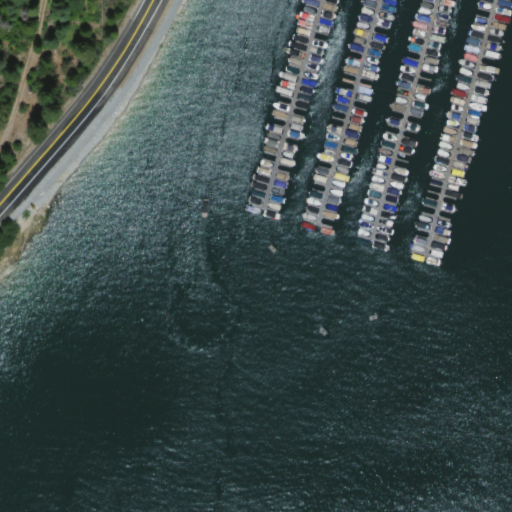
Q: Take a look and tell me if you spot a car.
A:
No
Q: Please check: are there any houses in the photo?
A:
No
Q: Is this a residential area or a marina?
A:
marina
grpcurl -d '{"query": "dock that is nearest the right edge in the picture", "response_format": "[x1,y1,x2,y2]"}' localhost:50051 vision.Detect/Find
[414,0,510,264]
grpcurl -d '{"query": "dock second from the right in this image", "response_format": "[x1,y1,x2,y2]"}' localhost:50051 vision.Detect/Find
[358,0,454,246]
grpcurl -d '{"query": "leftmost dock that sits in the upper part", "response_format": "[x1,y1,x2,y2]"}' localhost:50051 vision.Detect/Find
[250,0,338,214]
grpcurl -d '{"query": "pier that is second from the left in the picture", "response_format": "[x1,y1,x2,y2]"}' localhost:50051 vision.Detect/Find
[304,0,394,231]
